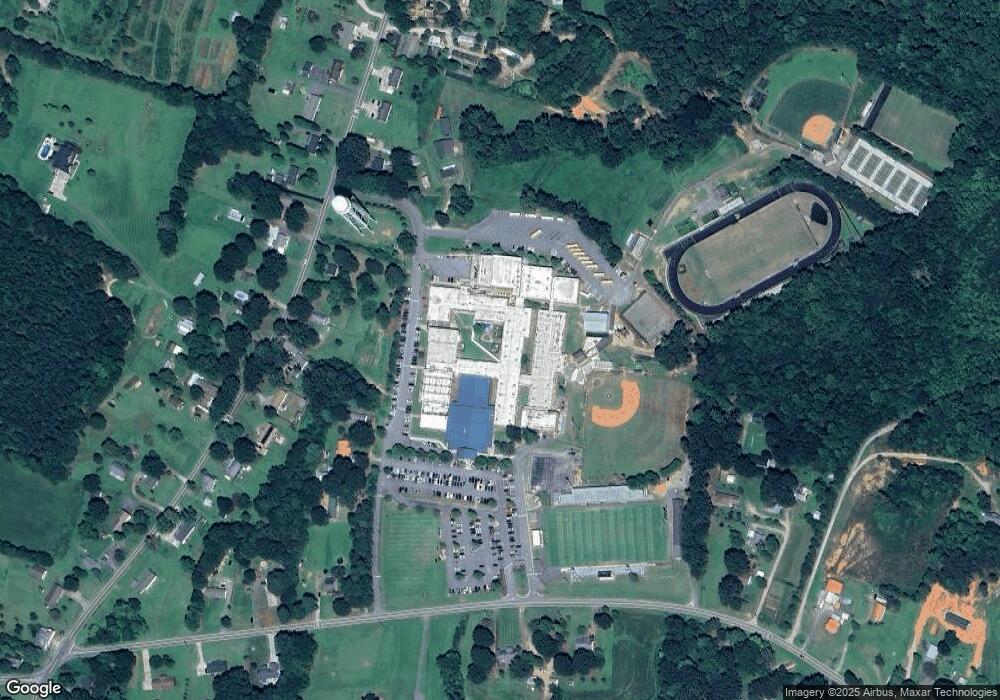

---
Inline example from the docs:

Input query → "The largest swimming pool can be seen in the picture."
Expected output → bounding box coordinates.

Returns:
[37,137,56,161]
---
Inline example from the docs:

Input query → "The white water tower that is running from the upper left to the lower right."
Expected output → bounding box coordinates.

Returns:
[333,196,377,236]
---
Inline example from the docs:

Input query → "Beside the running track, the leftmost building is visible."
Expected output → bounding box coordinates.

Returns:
[420,255,582,461]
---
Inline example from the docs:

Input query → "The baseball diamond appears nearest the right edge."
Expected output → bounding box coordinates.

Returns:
[757,51,857,148]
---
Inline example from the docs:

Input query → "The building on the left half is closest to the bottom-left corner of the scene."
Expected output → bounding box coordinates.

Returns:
[35,626,58,649]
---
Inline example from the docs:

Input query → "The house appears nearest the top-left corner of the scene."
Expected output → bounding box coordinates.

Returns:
[55,143,81,172]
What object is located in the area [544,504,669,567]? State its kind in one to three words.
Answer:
sports field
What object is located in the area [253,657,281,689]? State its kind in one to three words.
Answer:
house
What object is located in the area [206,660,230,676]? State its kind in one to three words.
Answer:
house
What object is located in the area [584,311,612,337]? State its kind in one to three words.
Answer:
building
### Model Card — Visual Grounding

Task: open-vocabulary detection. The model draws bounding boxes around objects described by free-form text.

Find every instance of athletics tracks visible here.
[663,182,842,316]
